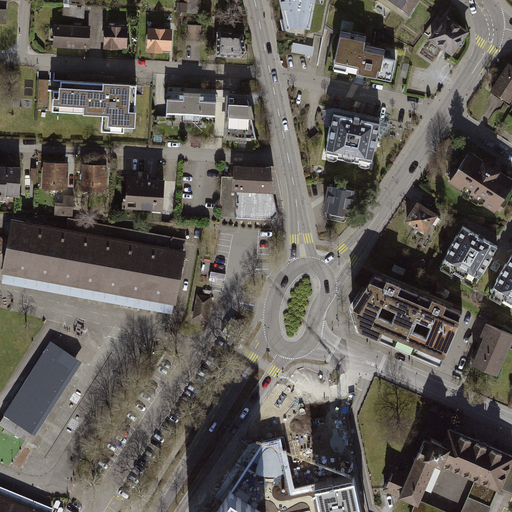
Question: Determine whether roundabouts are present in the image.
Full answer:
Yes, a roundabout can be made out from above.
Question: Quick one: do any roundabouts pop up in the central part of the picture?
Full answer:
Yes, in the central part of the picture there is a roundabout.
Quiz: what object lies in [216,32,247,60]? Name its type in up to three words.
house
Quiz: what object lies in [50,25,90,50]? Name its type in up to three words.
house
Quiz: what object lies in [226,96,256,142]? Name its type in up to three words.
building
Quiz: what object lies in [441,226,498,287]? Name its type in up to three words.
building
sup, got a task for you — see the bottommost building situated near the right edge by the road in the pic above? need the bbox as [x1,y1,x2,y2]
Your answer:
[402,430,512,512]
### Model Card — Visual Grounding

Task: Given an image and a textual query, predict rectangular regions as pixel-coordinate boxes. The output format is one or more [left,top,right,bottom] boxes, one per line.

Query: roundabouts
[258,252,342,365]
